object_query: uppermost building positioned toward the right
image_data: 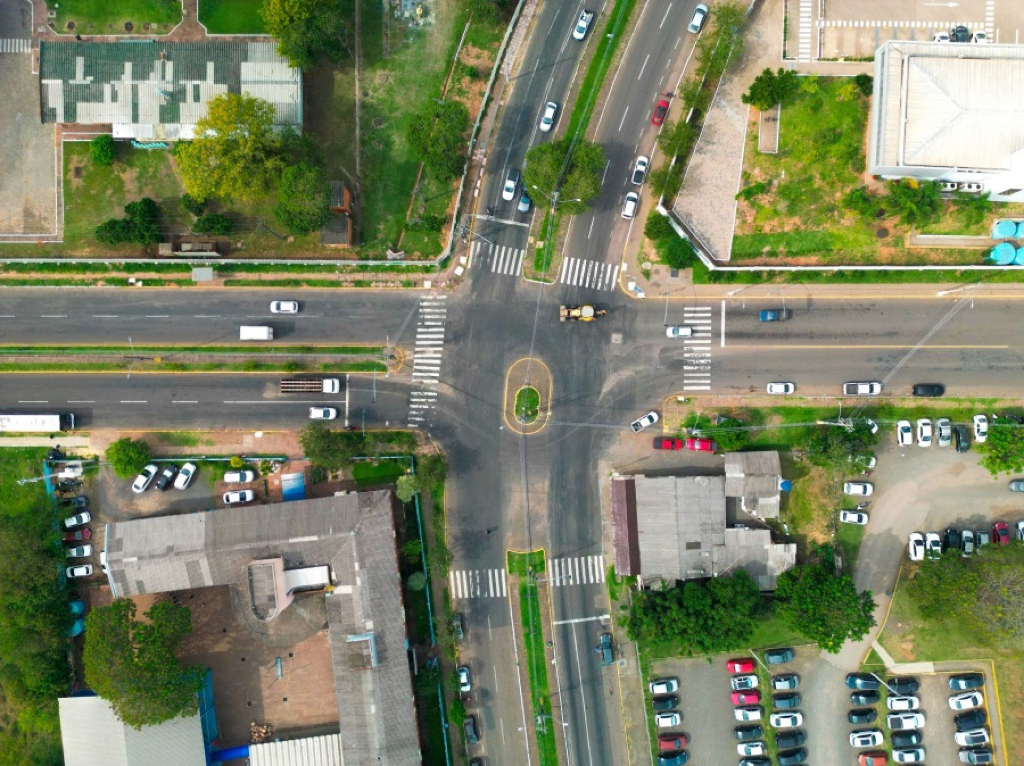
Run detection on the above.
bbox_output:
[870,40,1024,174]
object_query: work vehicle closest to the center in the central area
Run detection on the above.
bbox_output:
[560,306,608,322]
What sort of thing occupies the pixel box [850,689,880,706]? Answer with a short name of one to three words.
car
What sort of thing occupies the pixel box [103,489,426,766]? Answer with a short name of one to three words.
building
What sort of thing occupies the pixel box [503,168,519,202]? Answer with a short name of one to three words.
vehicle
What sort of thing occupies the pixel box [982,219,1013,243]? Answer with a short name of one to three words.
water tank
